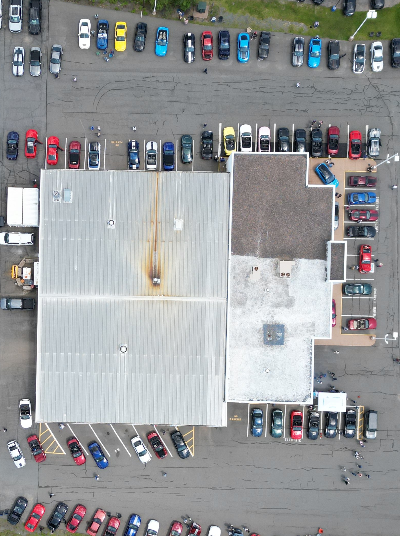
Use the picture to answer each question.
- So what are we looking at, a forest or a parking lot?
parking lot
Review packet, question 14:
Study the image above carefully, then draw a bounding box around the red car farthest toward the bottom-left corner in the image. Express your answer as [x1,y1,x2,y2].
[24,503,46,533]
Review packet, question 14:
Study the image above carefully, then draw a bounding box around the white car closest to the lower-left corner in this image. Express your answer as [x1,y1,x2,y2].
[6,439,26,469]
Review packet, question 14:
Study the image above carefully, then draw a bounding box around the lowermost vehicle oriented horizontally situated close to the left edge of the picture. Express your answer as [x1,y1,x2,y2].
[0,297,35,312]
